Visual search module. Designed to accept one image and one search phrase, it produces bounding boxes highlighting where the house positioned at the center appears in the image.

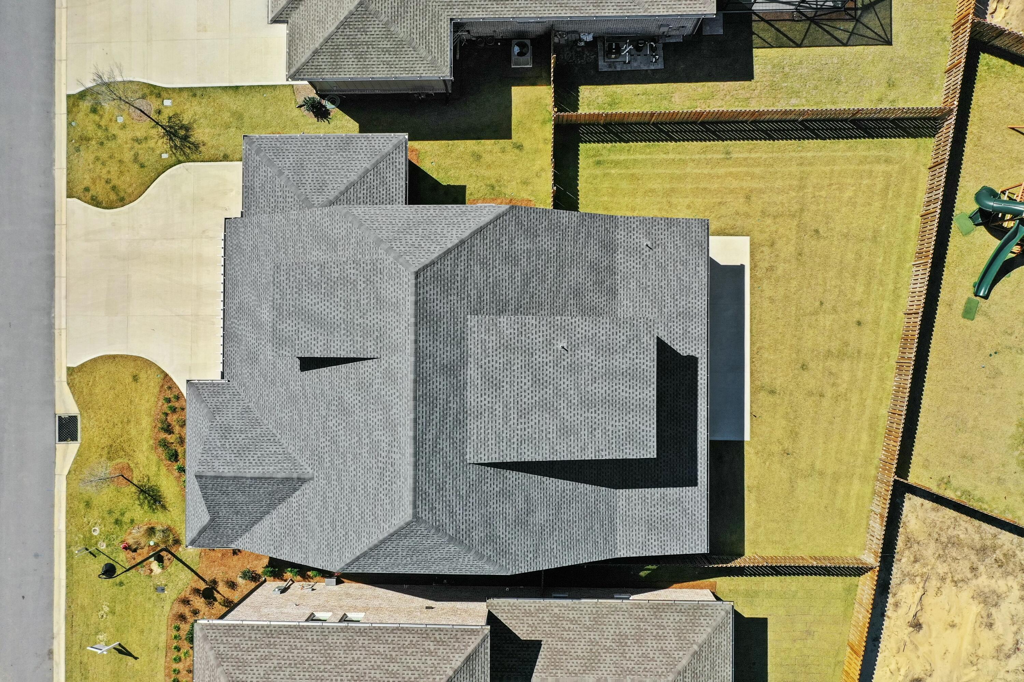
[183,131,712,577]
